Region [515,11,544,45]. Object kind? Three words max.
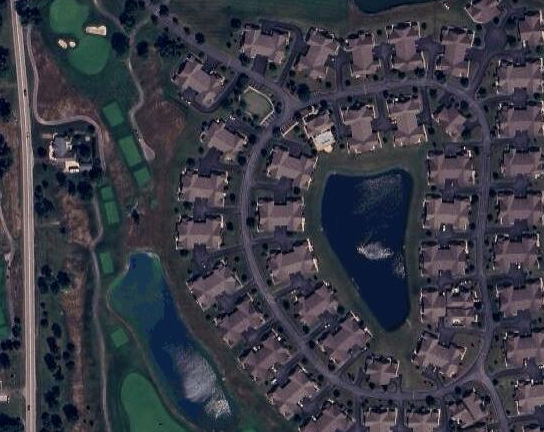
house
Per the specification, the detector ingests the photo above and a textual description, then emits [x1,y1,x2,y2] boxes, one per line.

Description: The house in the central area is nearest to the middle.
[256,197,307,234]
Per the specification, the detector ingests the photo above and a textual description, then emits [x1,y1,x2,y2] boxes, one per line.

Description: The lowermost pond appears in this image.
[108,252,231,432]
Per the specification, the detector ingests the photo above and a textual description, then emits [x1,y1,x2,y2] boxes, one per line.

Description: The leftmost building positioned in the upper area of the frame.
[48,136,74,158]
